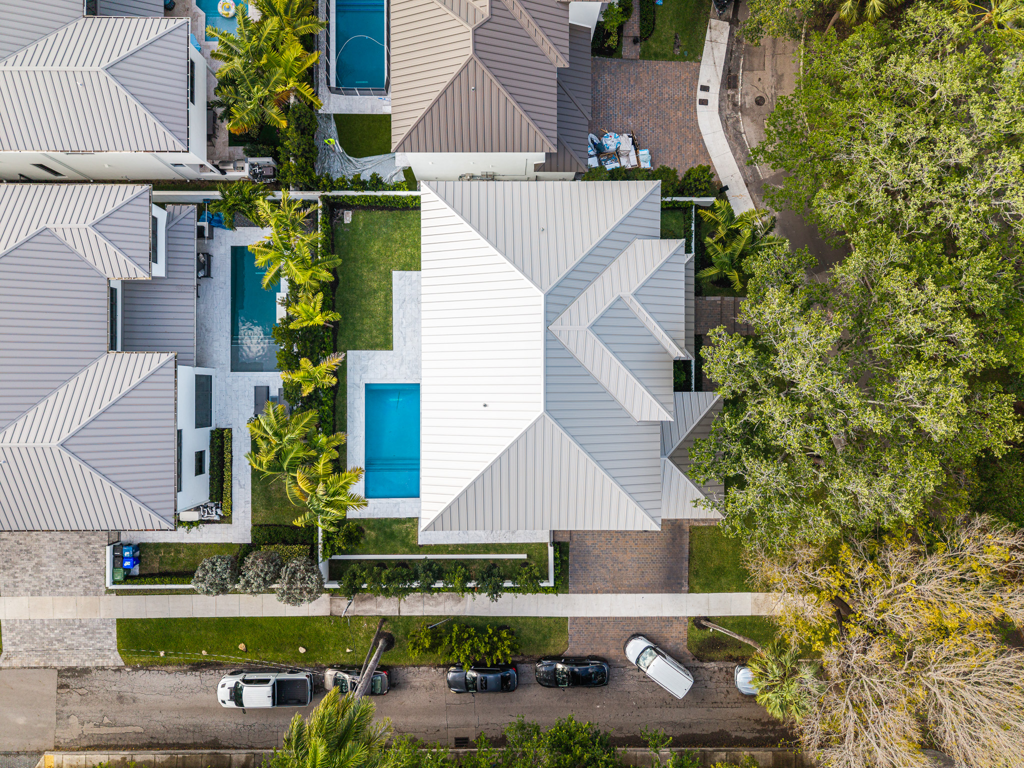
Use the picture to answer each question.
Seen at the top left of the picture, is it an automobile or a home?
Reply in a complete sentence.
Looking at the top left of the picture, you will find a home.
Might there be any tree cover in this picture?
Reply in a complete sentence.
Yes, there's tree cover in this view.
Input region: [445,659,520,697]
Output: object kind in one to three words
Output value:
car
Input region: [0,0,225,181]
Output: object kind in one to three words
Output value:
house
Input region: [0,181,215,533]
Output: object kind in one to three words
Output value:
house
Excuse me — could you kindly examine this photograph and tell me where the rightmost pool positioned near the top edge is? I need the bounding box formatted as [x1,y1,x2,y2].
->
[334,0,386,88]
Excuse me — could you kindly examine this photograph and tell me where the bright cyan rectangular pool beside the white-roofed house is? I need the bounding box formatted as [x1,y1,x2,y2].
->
[361,380,421,501]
